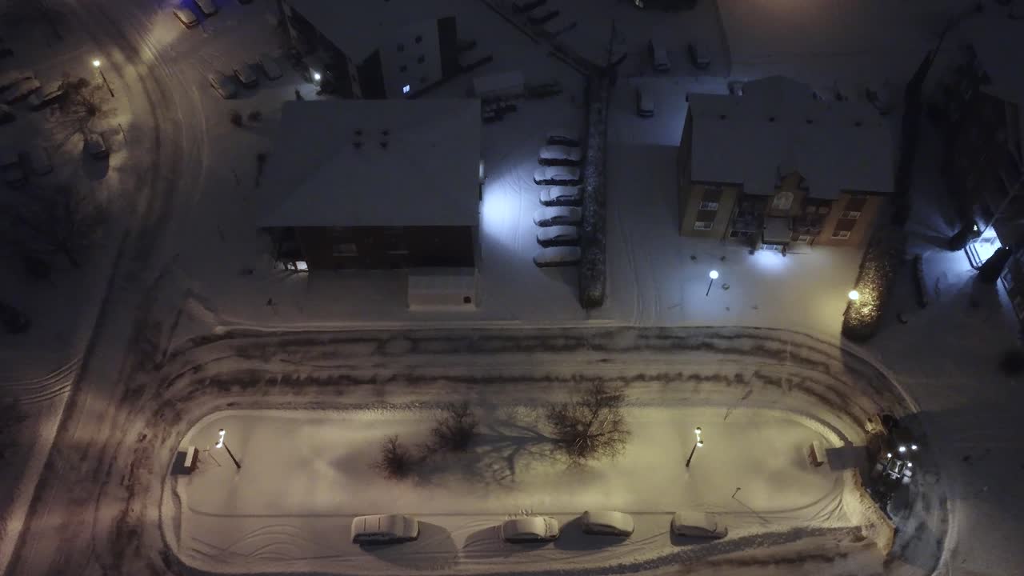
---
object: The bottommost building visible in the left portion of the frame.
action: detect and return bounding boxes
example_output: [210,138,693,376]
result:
[257,98,484,308]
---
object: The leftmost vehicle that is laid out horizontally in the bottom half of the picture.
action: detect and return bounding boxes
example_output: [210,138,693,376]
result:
[351,513,418,546]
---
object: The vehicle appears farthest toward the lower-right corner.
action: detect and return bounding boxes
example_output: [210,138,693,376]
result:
[859,412,916,499]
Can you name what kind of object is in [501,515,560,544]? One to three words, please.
car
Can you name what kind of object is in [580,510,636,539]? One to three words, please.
car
